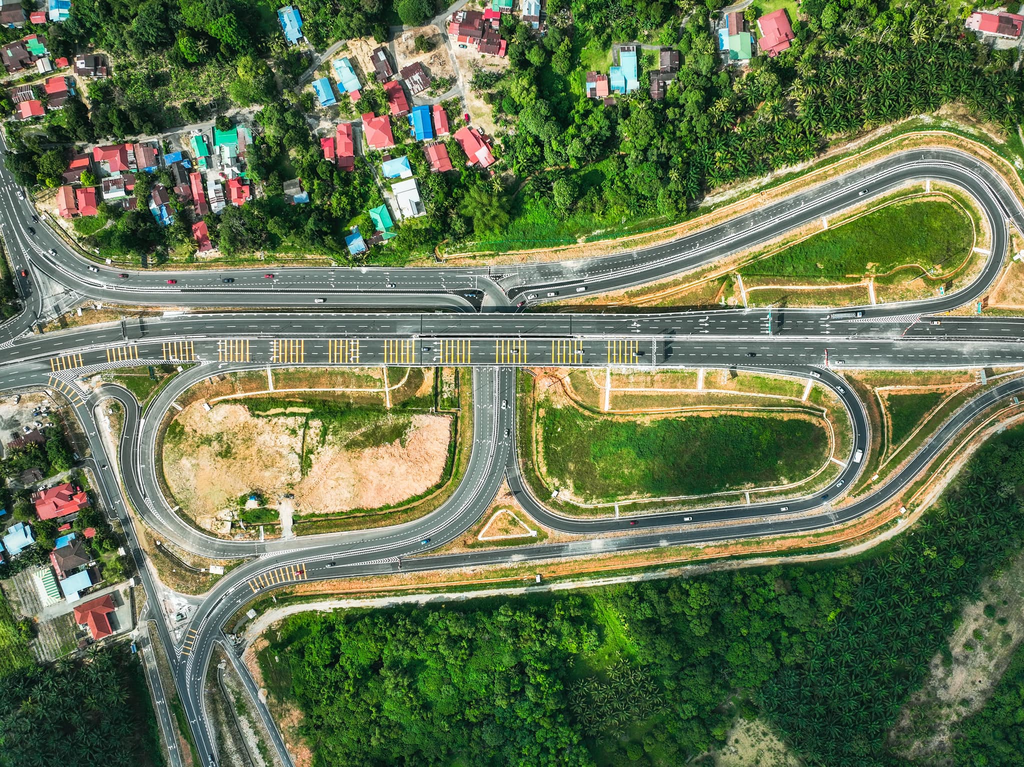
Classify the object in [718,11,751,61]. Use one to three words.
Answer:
house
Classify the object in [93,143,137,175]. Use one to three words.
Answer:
house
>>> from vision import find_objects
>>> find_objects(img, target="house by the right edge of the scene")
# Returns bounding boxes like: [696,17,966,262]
[964,9,1024,37]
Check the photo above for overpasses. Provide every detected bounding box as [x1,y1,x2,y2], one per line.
[420,313,573,367]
